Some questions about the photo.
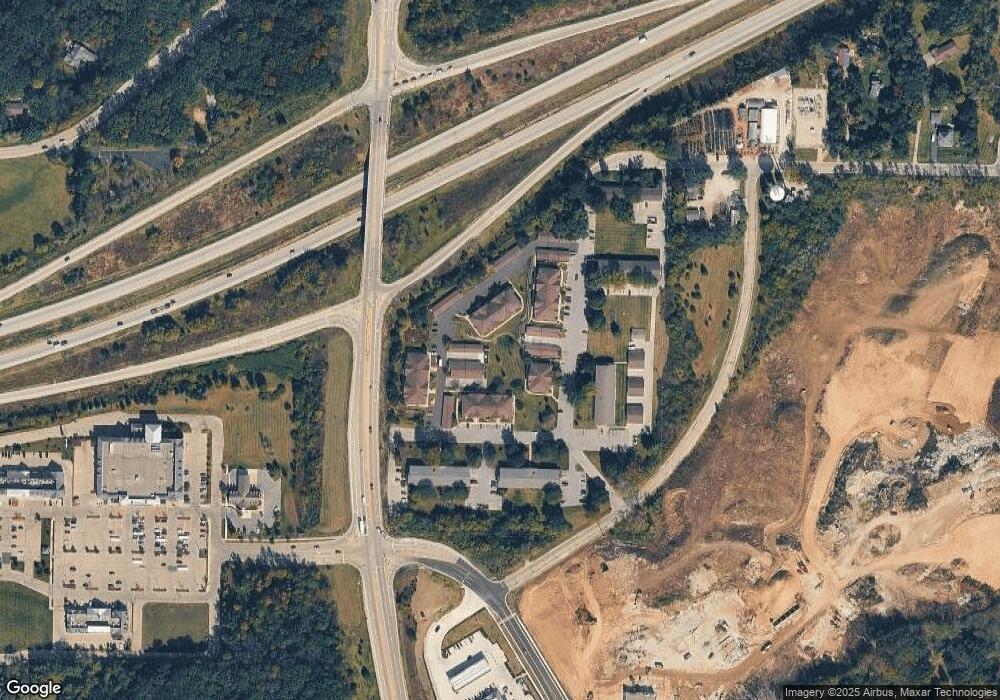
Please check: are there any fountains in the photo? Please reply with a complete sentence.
No, there's no fountain here.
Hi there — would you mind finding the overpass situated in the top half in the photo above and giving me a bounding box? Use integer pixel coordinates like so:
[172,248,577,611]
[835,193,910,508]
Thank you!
[363,129,389,263]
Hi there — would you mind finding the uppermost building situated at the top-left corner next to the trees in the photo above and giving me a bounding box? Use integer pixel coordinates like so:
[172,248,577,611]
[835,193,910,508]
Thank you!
[67,42,94,64]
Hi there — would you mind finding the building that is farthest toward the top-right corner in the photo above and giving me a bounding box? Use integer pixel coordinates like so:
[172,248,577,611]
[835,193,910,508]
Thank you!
[929,39,963,67]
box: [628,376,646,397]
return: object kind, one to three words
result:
building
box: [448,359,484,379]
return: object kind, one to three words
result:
building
